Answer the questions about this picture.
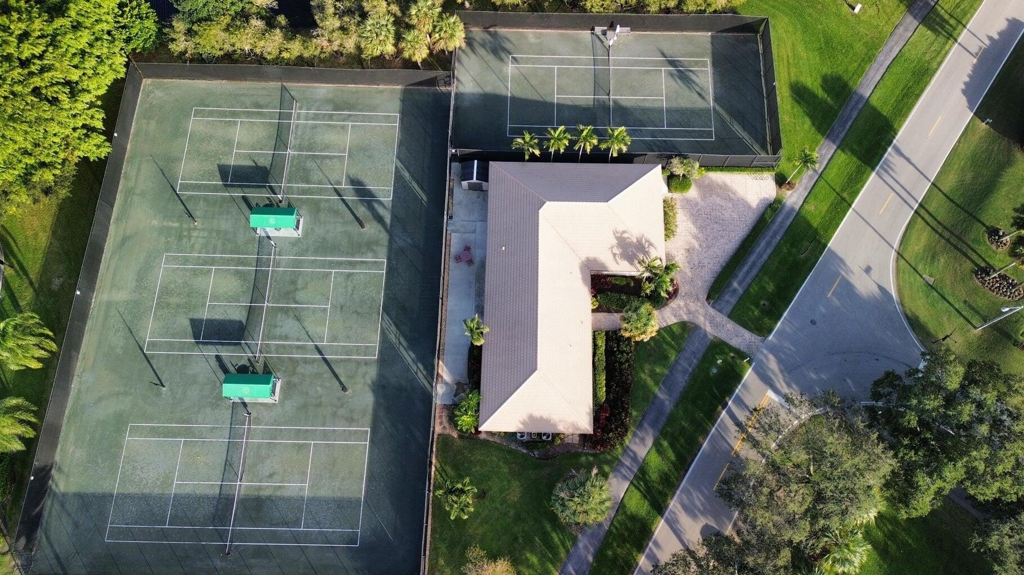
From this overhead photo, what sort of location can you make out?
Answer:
sports ground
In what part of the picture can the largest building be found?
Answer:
center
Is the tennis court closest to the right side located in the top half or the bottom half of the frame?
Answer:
top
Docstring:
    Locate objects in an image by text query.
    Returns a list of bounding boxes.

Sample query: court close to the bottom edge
[28,386,435,575]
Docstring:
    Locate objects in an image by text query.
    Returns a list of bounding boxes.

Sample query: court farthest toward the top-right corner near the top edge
[450,27,773,169]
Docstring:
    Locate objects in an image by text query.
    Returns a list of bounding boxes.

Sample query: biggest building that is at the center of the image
[478,159,667,434]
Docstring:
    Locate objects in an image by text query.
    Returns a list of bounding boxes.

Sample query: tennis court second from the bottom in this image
[72,222,444,395]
